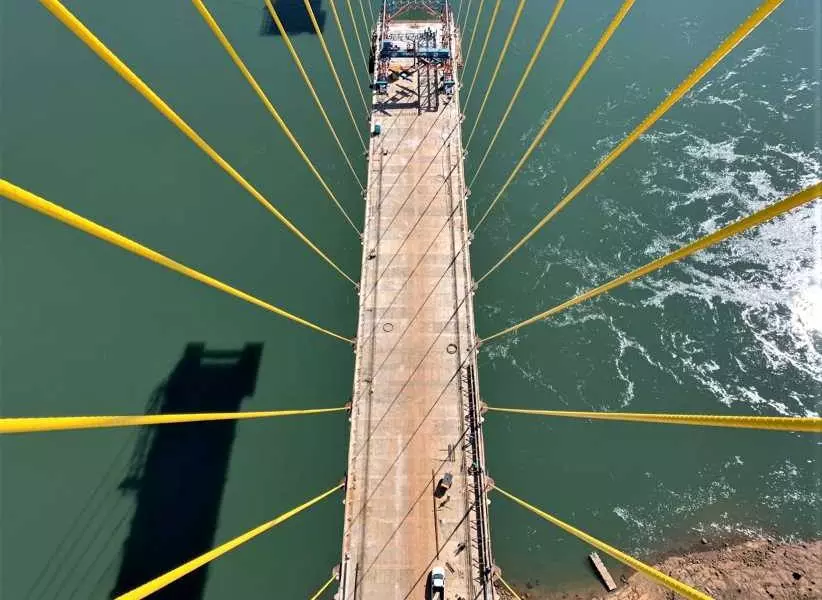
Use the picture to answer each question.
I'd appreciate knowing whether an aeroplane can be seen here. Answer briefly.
No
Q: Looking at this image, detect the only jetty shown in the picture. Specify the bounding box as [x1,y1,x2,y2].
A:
[589,552,616,590]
